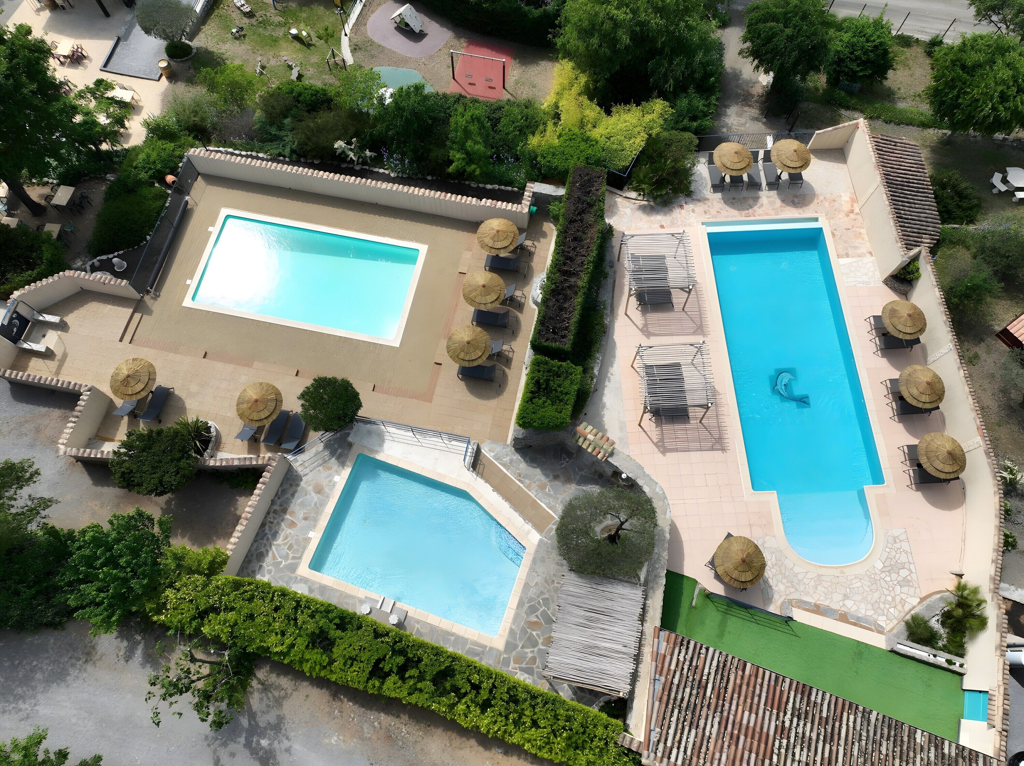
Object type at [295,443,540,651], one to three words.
swimming pool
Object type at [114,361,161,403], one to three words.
umbrella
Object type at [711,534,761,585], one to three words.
umbrella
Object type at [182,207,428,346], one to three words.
swimming pool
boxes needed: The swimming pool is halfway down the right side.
[699,213,896,574]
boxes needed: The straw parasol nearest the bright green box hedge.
[446,329,493,373]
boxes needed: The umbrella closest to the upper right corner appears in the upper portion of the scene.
[770,144,810,191]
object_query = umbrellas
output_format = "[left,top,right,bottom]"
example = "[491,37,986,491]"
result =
[770,144,810,191]
[905,437,964,482]
[712,145,751,193]
[711,534,761,585]
[235,384,283,429]
[872,302,923,347]
[114,361,161,403]
[446,329,493,373]
[475,220,518,262]
[888,369,940,411]
[463,274,508,313]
